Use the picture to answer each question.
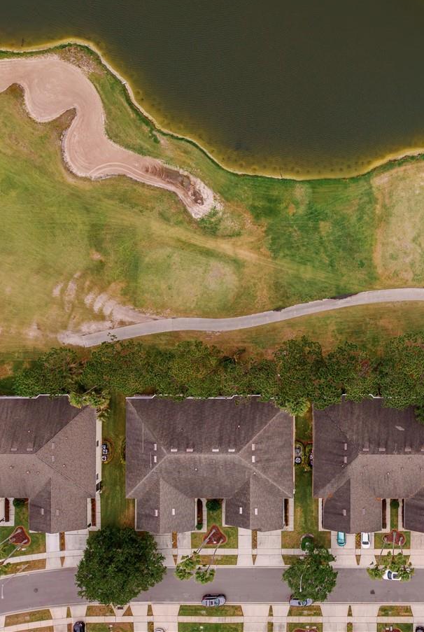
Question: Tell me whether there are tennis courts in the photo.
No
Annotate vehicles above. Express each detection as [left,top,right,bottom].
[360,532,372,551]
[382,569,402,581]
[335,532,346,549]
[202,594,226,607]
[290,595,313,608]
[73,618,86,632]
[415,624,424,632]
